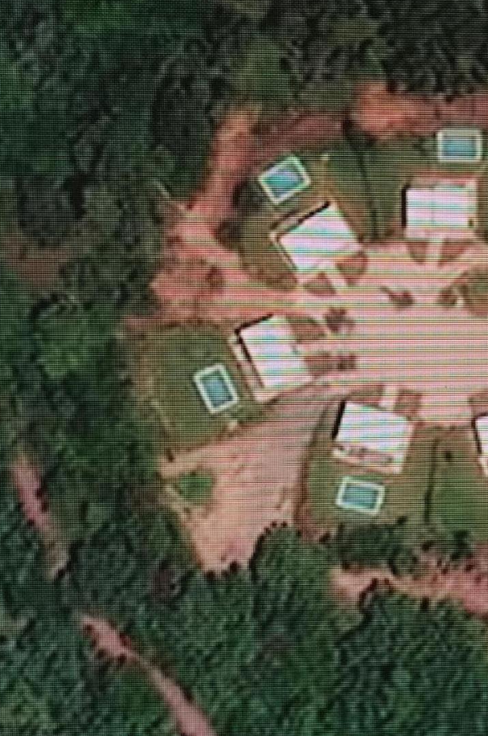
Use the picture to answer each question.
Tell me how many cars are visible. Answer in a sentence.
Not a single car can be seen.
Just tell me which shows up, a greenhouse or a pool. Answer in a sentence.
Visible in the photo is a pool.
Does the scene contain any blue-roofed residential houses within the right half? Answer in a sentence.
No, within the right half there is no blue-roofed residential house.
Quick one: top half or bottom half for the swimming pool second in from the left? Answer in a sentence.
The swimming pool second in from the left is in the top half of the image.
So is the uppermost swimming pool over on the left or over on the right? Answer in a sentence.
You can find the uppermost swimming pool on the right side of the picture.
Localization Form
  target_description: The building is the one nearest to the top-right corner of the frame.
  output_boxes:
[404,177,478,257]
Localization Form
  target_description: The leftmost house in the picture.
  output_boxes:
[233,311,315,396]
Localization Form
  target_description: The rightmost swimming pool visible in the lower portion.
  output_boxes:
[336,475,385,515]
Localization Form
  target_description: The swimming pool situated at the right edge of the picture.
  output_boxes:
[438,129,481,163]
